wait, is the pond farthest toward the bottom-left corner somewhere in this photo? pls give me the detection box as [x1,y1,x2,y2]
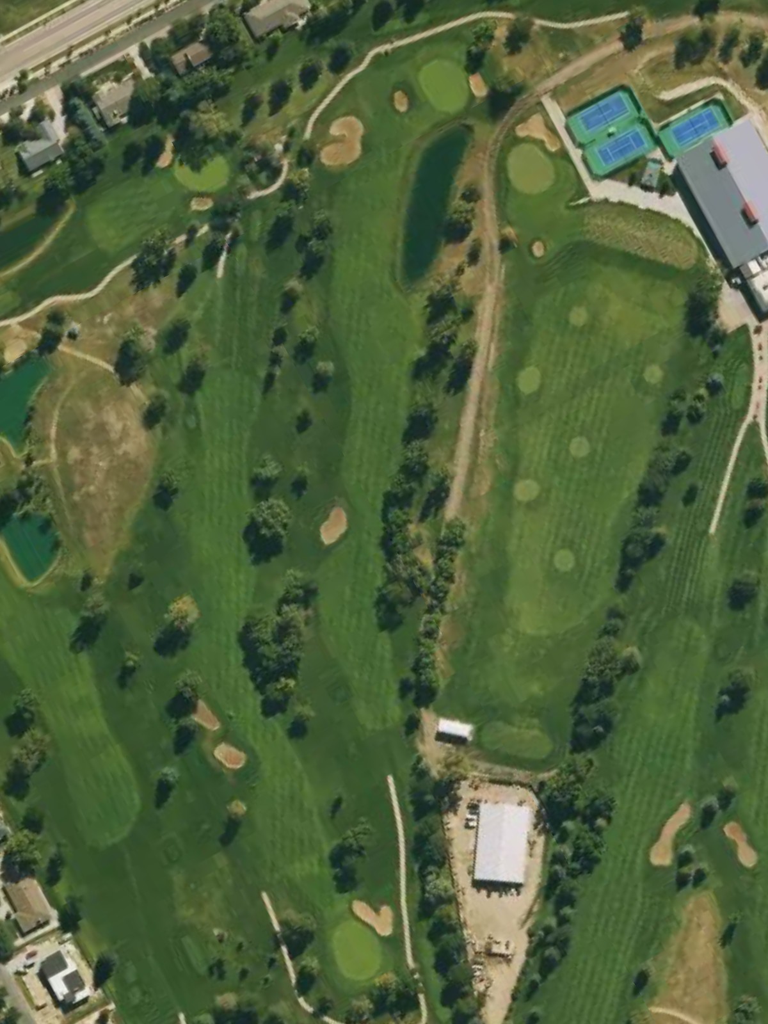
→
[0,512,61,581]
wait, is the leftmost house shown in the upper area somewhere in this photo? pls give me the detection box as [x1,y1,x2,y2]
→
[18,117,63,171]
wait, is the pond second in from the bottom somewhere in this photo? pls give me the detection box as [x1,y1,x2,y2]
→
[0,354,50,453]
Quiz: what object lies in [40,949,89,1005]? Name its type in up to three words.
house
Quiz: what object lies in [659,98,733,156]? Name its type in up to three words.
tennis court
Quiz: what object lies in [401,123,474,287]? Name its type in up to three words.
pond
